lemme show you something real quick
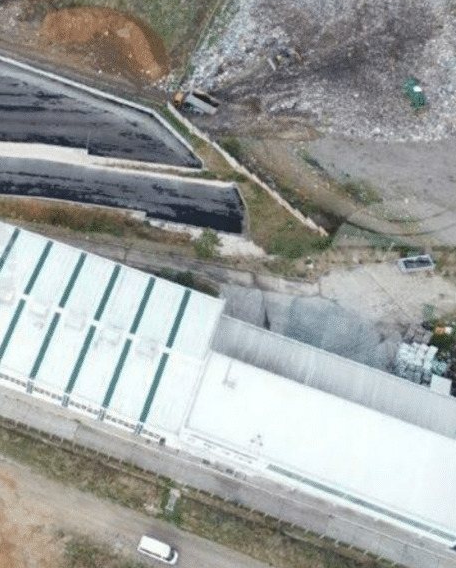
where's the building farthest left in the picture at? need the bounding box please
[0,222,224,452]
